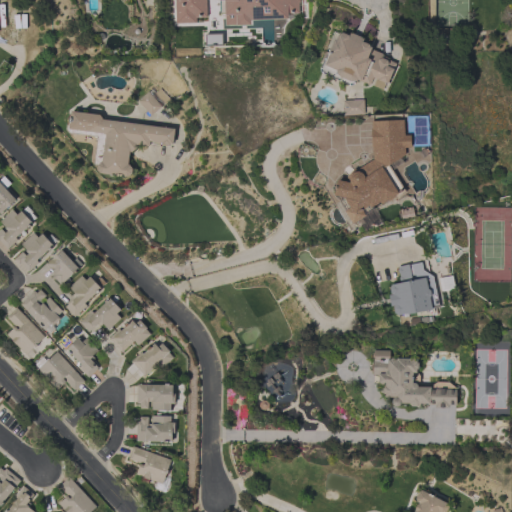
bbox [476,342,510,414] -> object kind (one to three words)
basketball court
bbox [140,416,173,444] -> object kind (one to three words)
house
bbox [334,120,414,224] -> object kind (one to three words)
house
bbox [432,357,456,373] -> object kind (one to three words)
swimming pool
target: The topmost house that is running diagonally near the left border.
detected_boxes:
[0,206,36,249]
